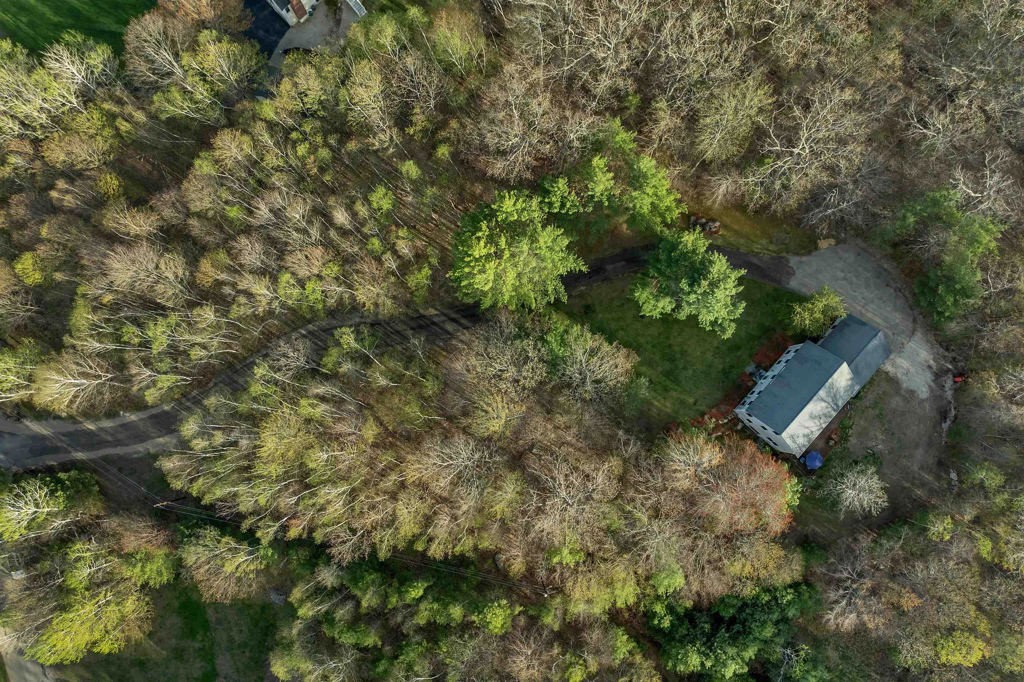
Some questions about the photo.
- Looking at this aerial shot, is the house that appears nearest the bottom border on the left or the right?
right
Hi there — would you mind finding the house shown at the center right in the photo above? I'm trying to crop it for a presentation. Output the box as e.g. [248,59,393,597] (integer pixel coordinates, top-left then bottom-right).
[734,311,898,461]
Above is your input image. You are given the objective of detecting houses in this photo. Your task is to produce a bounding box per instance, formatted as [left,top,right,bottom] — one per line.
[734,311,898,461]
[268,0,320,27]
